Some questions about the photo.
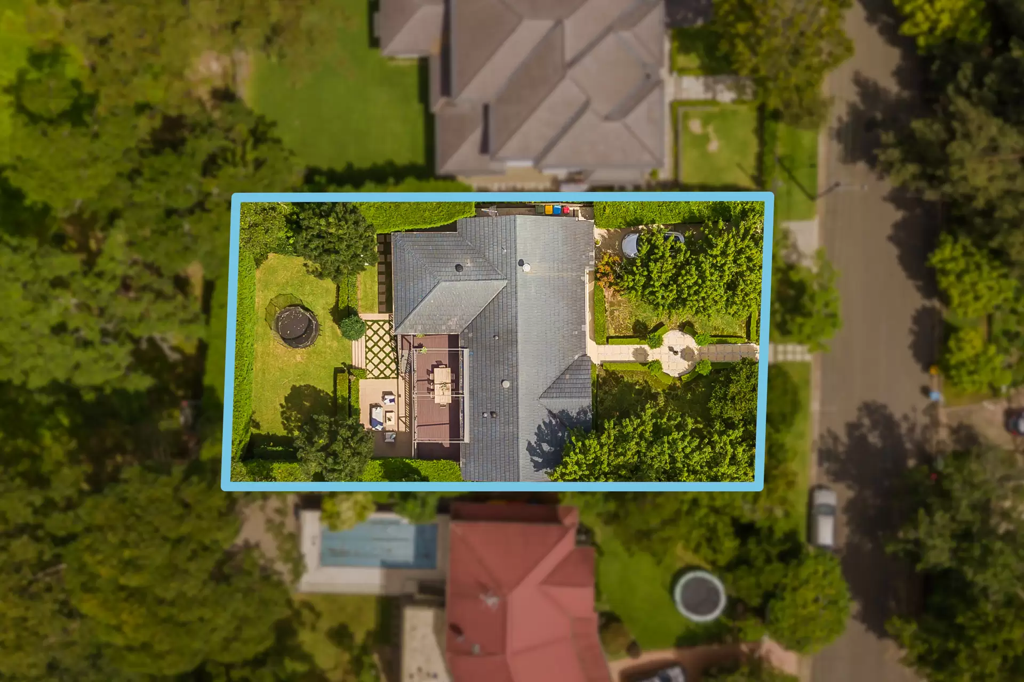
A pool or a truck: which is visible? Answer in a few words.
pool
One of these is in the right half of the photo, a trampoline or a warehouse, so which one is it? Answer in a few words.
trampoline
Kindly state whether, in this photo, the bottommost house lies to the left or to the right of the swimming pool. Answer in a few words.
to the right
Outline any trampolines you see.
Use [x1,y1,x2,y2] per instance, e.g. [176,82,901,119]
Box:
[268,303,325,350]
[672,567,725,622]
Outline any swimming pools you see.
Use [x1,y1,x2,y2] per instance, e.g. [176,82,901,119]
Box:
[300,509,448,592]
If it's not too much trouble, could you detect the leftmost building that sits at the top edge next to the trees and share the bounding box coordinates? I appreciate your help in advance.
[379,0,665,185]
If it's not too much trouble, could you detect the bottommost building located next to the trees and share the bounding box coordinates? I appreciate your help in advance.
[448,500,603,682]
